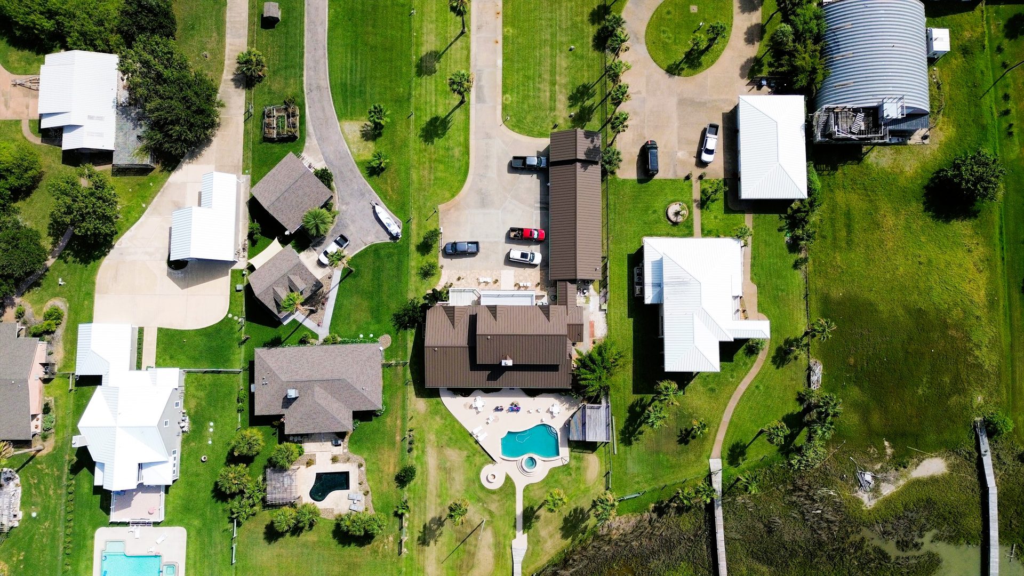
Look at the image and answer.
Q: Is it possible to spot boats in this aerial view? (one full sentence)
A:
Yes, you can see a boat in this photo.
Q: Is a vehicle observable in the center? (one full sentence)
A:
Yes, there is a vehicle in the center.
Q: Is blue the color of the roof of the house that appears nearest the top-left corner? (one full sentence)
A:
No, the color of the roof of the house that appears nearest the top-left corner is white.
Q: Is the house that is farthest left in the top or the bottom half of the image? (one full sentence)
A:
The house that is farthest left is in the bottom half of the image.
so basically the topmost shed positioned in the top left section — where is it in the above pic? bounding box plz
[264,2,282,21]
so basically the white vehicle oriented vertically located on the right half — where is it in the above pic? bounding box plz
[700,124,719,164]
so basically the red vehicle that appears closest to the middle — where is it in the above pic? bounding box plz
[509,227,546,242]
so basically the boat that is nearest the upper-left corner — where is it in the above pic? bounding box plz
[373,206,402,239]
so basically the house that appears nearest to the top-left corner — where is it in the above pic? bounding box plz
[38,50,125,150]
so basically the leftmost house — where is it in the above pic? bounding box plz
[0,322,48,439]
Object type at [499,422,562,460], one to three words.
swimming pool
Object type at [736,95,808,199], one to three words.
building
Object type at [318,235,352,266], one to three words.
truck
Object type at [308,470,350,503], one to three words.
swimming pool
